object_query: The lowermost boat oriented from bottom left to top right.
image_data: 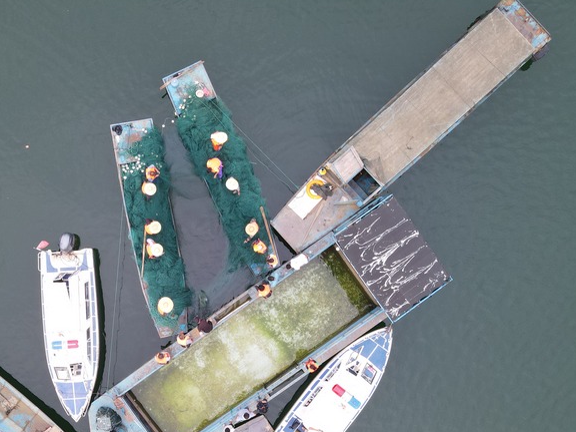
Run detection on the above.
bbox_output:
[273,326,395,432]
